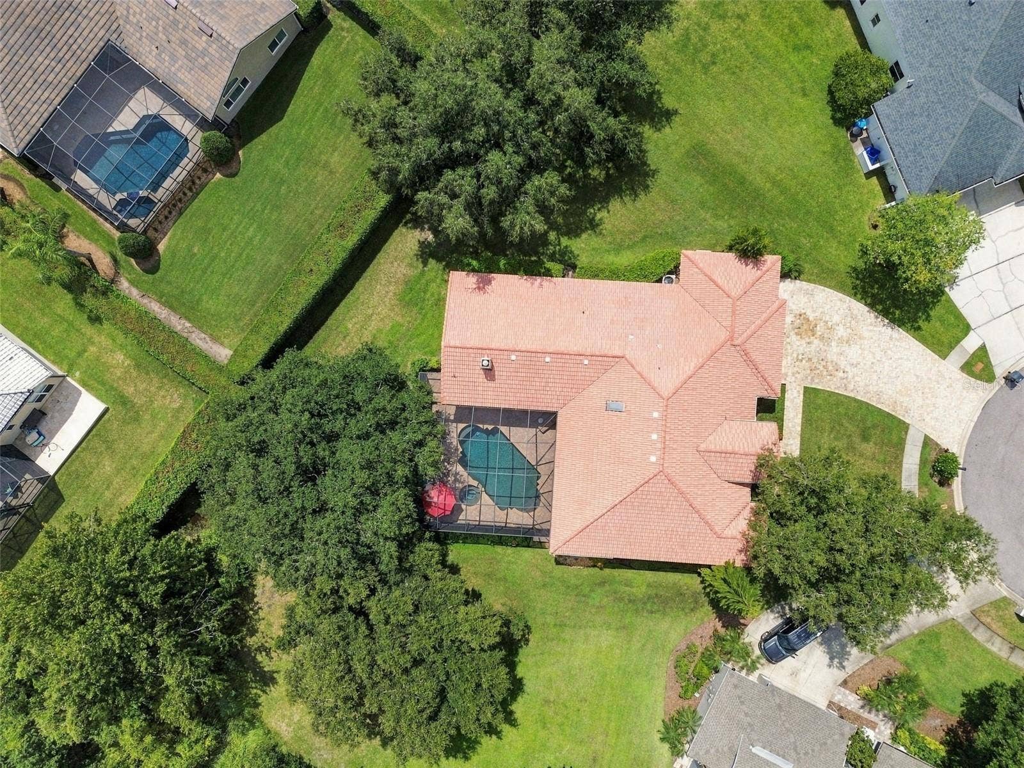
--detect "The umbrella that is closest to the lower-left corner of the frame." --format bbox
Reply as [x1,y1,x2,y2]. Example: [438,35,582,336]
[424,482,459,518]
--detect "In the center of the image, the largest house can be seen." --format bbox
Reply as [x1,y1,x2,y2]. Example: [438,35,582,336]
[439,249,788,566]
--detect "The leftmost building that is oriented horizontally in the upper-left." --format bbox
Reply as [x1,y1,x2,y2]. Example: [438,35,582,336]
[0,0,304,155]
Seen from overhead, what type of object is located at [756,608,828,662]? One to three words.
car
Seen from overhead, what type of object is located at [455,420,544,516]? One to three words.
swimming pool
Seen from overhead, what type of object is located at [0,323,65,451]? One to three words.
house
